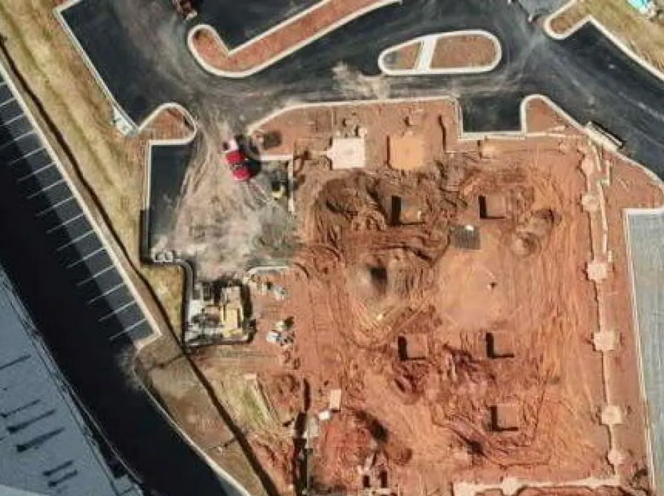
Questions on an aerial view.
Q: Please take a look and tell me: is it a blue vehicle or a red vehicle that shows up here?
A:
red vehicle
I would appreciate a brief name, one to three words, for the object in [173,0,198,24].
truck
